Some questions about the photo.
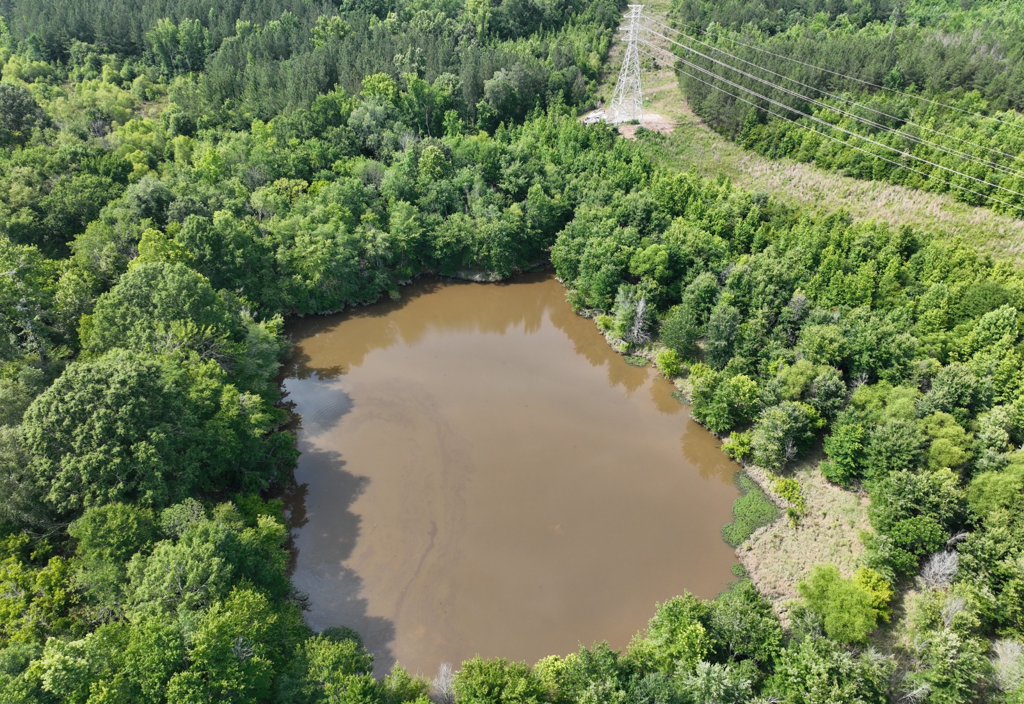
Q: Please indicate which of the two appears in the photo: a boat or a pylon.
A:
pylon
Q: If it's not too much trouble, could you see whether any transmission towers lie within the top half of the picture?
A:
Yes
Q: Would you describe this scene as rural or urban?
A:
rural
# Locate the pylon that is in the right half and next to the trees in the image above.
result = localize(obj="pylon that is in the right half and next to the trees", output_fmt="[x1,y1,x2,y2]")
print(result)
[605,5,655,126]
